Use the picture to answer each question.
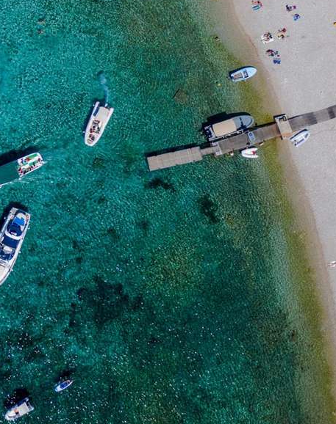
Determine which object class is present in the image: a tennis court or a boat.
boat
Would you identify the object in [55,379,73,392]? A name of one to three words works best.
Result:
boat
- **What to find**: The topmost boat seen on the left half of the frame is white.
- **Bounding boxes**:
[83,101,113,146]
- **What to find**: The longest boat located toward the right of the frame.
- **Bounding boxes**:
[203,114,254,141]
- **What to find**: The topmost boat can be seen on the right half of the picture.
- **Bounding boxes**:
[226,67,257,82]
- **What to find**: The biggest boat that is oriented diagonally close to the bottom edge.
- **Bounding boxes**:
[6,399,34,422]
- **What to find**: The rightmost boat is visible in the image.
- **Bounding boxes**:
[289,131,309,148]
